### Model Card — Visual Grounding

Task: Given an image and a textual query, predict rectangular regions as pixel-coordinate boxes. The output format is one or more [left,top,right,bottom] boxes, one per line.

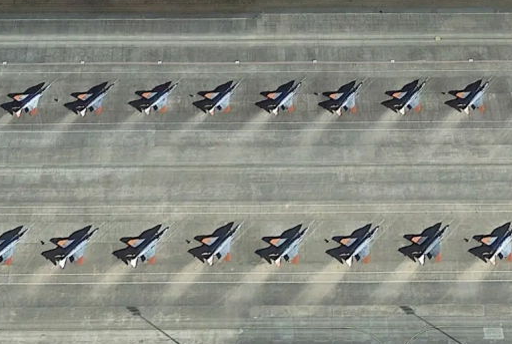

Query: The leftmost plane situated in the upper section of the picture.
[7,84,49,120]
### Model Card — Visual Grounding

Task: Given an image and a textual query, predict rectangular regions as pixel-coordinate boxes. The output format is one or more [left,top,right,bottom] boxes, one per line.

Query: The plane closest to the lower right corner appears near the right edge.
[481,230,512,267]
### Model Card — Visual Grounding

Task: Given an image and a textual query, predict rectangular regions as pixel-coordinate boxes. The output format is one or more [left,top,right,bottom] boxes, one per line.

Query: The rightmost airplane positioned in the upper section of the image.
[455,81,490,116]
